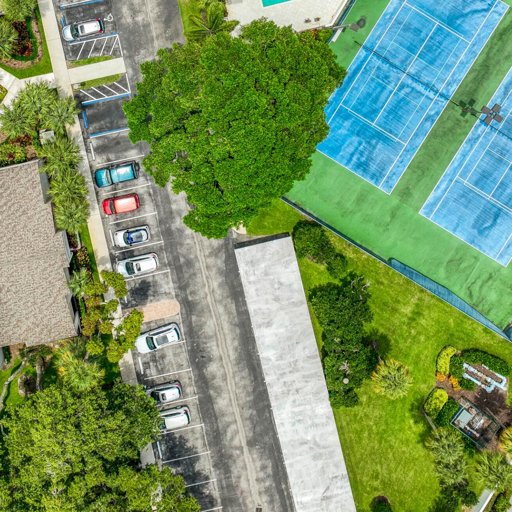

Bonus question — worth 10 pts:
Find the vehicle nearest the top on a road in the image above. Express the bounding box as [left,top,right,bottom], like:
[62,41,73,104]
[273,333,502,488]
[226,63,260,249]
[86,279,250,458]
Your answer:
[63,18,107,42]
